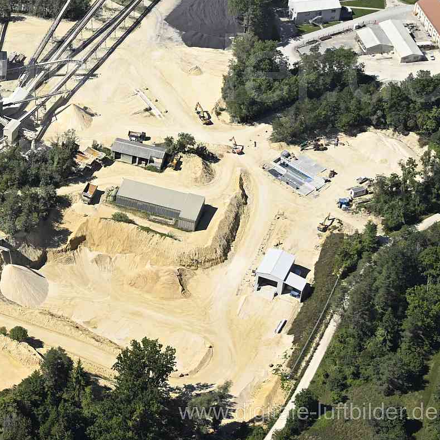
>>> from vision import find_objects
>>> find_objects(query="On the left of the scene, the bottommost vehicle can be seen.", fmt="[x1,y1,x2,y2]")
[83,182,96,201]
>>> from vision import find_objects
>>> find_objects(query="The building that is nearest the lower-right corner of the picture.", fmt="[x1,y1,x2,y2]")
[282,272,310,303]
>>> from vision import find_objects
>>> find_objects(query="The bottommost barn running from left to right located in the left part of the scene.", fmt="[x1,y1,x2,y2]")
[114,175,207,229]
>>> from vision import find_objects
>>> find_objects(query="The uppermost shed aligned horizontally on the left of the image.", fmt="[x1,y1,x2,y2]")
[110,137,173,175]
